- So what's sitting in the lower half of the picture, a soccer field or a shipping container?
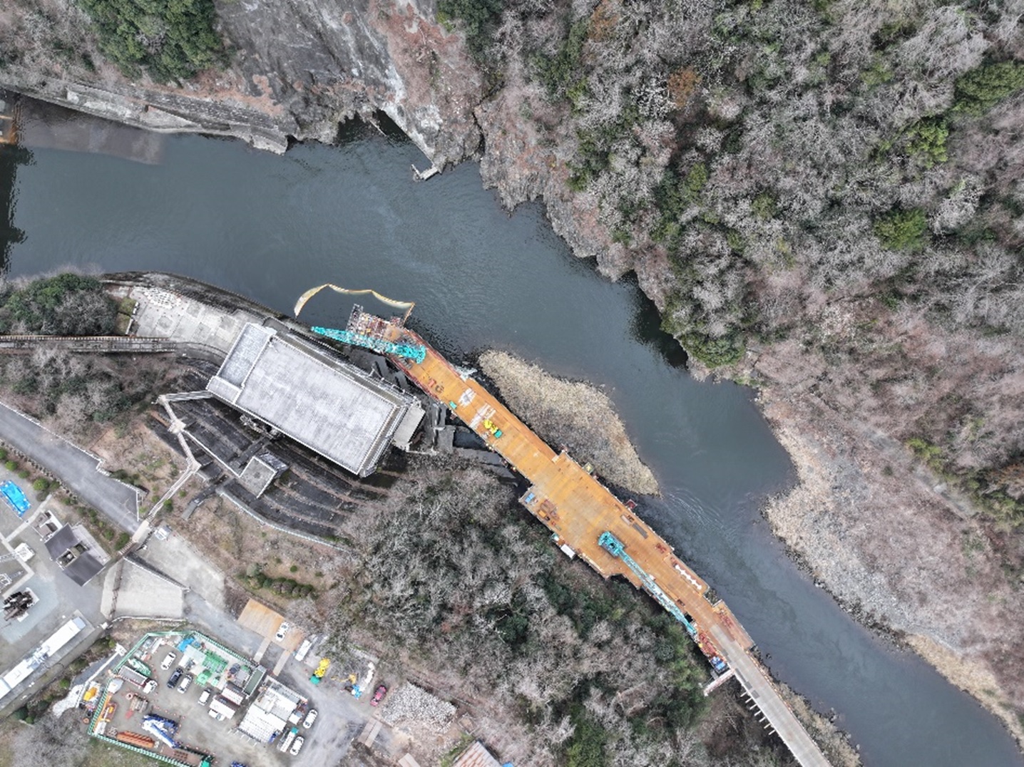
shipping container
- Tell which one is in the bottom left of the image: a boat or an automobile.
automobile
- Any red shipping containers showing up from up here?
No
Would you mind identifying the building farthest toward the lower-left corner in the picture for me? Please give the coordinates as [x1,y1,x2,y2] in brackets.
[0,613,96,708]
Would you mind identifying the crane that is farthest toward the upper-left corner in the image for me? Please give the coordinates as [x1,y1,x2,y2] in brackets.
[312,327,429,364]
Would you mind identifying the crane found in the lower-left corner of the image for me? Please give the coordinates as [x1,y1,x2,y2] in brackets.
[138,707,178,751]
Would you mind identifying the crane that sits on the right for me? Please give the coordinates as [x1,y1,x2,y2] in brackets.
[597,529,697,636]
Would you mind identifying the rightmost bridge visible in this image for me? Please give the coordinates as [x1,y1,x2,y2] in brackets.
[710,623,831,767]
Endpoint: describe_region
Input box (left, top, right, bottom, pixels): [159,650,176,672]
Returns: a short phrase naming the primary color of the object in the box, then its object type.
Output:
white car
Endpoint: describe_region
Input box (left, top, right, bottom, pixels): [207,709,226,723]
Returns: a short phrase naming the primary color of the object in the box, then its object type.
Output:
white vehicle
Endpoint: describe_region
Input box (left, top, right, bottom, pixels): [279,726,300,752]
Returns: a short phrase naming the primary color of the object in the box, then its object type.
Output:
white truck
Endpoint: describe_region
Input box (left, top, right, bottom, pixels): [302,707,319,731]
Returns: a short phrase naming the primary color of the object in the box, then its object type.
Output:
white car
